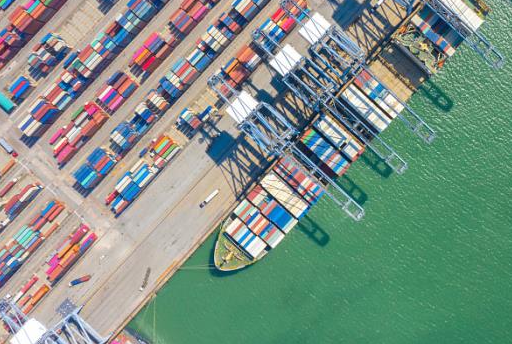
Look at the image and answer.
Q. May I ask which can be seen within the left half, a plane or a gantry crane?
gantry crane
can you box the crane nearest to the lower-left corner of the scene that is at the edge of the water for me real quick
[0,295,114,344]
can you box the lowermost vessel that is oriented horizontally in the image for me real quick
[109,326,152,344]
